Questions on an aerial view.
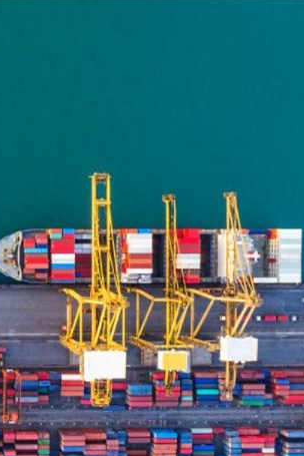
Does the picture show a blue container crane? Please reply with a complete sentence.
No, there appears to be no blue container crane in this shot.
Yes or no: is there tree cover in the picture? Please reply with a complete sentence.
No, there is no tree cover in the image.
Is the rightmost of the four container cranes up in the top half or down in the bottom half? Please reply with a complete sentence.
You can find the rightmost of the four container cranes in the bottom half.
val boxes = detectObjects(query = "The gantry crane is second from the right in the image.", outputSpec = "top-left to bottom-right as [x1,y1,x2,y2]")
[126,196,195,391]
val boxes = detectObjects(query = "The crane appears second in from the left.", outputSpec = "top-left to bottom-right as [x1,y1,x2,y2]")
[60,175,130,410]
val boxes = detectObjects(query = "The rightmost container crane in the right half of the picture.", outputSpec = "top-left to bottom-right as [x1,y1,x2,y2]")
[186,193,260,402]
